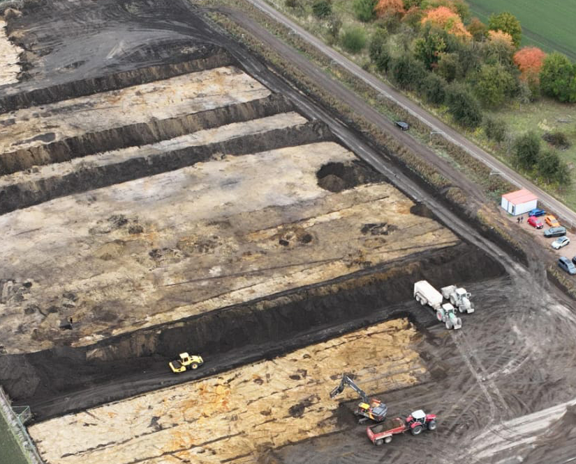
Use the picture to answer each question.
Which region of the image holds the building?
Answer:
right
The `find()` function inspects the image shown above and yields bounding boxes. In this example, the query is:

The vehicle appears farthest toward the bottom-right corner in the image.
[409,412,441,434]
